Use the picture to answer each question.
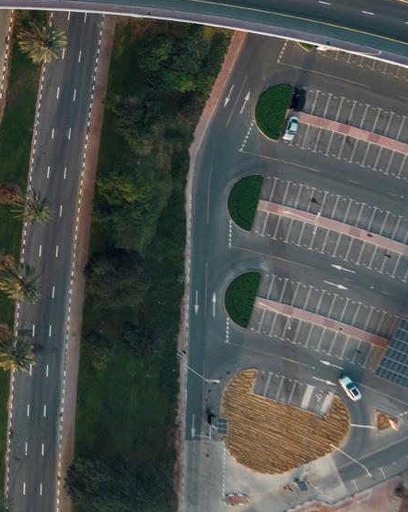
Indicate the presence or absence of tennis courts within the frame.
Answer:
No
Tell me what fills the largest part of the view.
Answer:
paved ground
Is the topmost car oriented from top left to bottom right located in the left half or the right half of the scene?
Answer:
right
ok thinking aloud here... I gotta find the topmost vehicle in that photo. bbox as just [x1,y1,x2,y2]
[293,88,308,111]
